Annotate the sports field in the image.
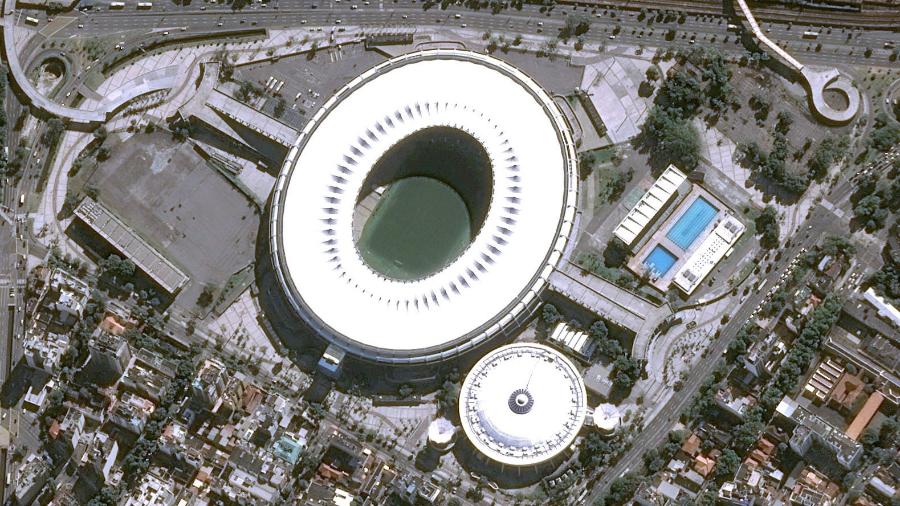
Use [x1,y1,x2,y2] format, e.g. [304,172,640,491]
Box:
[368,158,478,275]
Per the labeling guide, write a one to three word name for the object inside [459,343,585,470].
stadium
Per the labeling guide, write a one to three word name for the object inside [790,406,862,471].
building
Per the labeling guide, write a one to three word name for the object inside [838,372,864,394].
house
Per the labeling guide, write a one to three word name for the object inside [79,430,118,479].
building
